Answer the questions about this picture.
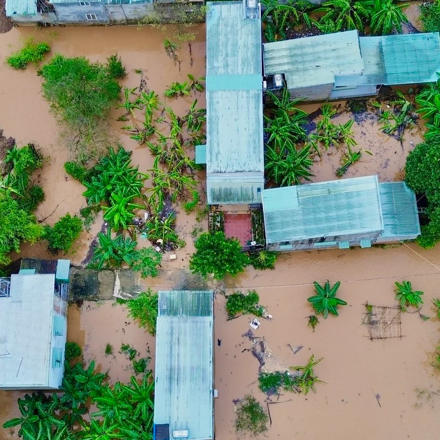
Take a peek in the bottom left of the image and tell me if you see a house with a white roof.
Yes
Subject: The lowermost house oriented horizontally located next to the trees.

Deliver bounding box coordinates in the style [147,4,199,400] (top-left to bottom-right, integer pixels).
[261,176,422,255]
